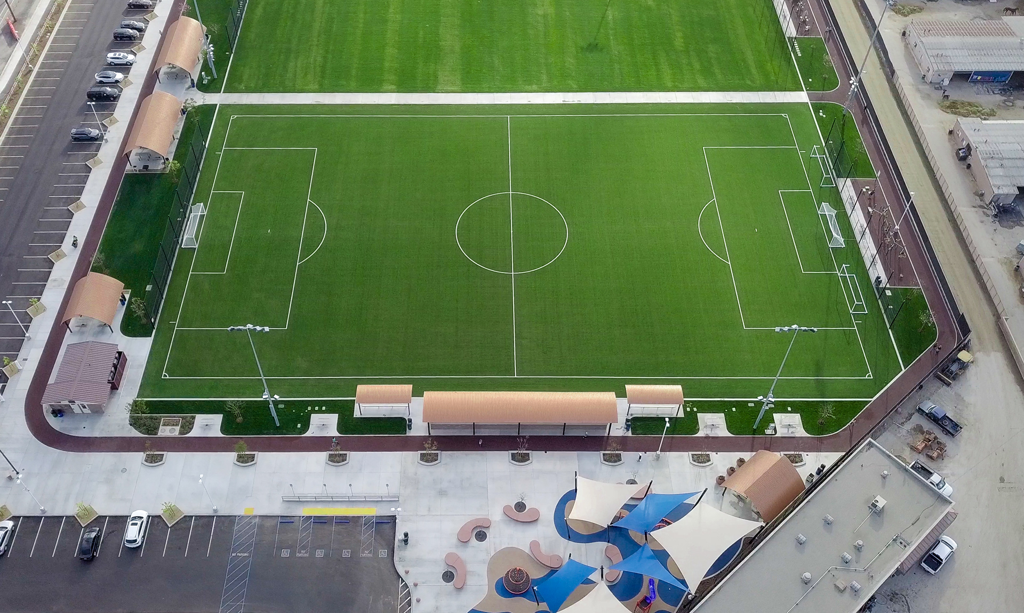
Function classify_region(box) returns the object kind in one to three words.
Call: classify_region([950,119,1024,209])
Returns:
barn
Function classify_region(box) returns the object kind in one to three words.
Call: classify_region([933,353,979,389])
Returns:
work vehicle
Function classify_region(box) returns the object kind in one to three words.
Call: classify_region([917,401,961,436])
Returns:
truck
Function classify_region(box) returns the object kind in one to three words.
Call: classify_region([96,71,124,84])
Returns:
vehicle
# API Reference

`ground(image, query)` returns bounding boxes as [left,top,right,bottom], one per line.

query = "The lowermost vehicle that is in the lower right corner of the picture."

[918,537,957,577]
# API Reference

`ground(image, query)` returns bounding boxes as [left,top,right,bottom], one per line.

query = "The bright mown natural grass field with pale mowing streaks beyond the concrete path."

[220,0,807,93]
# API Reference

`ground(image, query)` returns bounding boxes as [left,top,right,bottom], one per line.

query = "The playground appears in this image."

[468,489,743,613]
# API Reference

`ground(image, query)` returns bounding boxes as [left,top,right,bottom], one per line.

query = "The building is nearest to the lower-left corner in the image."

[40,339,120,413]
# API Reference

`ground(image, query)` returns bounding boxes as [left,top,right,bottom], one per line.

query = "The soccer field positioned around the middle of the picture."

[136,91,906,401]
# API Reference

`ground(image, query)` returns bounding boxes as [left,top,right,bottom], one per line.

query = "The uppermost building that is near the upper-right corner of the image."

[903,26,1024,84]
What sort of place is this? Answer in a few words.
sports ground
